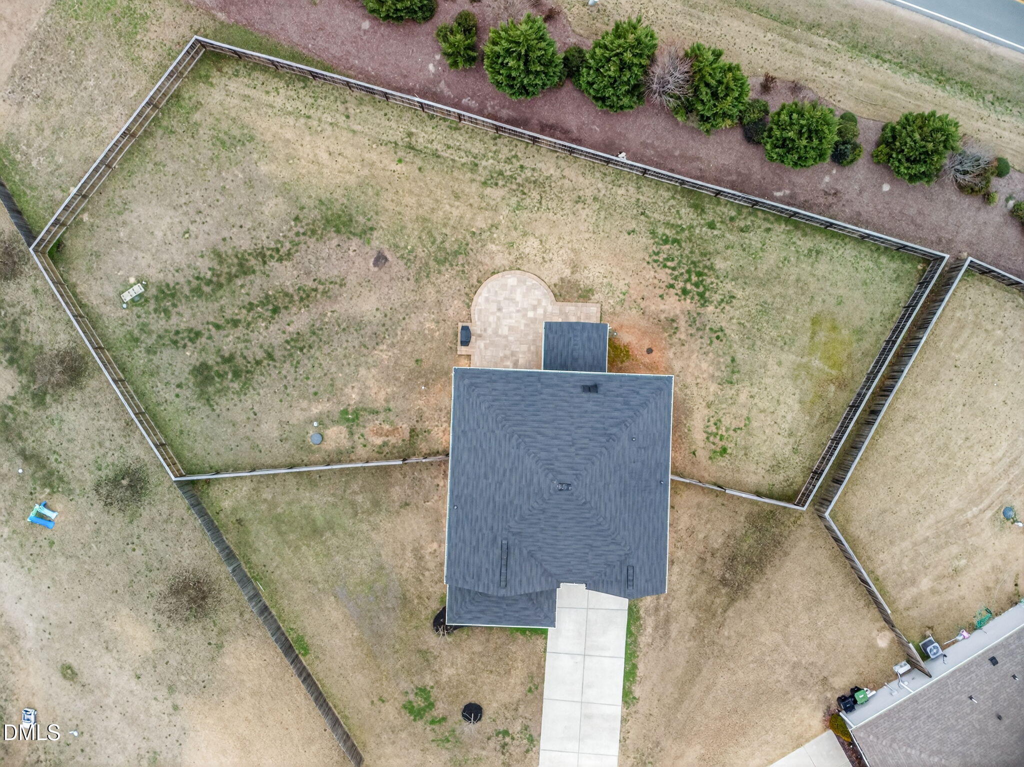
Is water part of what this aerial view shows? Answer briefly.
No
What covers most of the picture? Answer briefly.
grass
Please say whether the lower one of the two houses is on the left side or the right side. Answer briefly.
right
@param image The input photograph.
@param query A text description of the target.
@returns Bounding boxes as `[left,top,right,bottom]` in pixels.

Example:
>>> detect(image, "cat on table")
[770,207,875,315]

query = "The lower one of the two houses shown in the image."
[834,602,1024,767]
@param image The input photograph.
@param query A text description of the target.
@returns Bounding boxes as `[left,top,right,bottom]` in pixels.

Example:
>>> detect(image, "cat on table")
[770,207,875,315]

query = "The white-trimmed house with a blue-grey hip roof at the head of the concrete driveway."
[444,322,677,630]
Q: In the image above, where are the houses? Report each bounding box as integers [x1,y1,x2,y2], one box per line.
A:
[834,602,1024,767]
[444,322,677,630]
